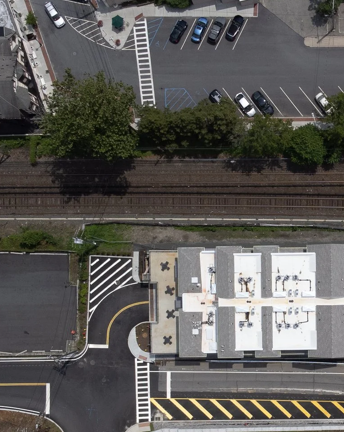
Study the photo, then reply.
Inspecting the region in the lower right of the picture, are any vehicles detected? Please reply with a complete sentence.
No, I can find no vehicle in the lower right of the picture.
